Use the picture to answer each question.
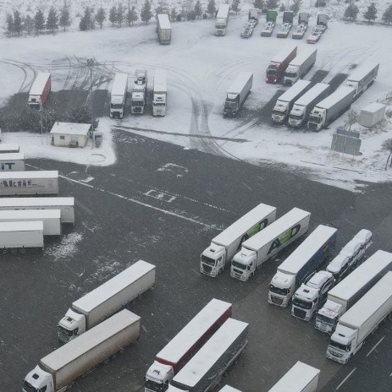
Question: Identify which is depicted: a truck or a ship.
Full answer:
Looking from above, you can make out a truck.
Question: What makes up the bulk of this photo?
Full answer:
What you mostly see from above here is paved ground.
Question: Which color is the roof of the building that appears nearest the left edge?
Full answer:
From above, the roof of the building that appears nearest the left edge looks white.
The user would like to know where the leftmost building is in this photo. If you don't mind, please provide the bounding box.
[51,117,91,150]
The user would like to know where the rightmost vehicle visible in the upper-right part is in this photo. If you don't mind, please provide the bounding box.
[344,62,379,104]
